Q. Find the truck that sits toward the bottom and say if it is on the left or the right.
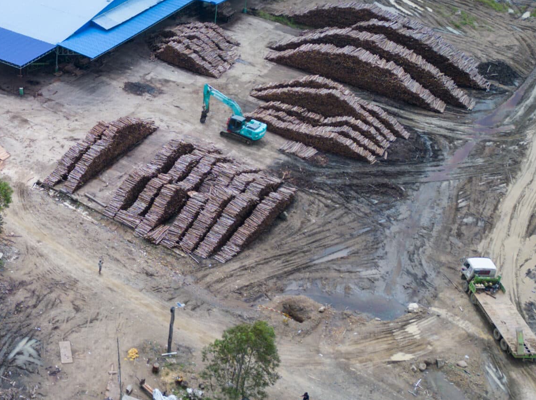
right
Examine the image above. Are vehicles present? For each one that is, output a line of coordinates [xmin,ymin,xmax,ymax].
[199,80,259,144]
[457,258,536,363]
